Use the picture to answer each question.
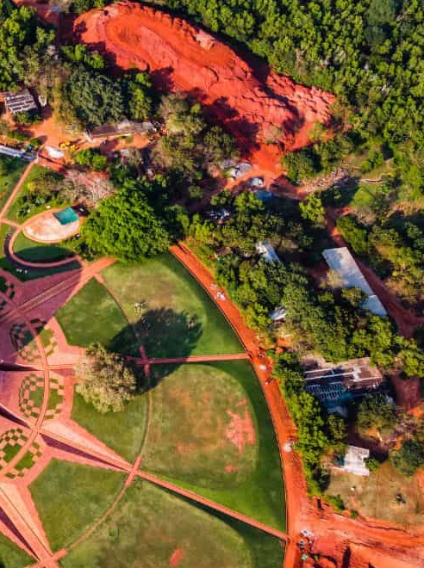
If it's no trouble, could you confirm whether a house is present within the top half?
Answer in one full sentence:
Yes, a house can be seen within the top half.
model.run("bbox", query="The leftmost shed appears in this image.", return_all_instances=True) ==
[1,87,38,119]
